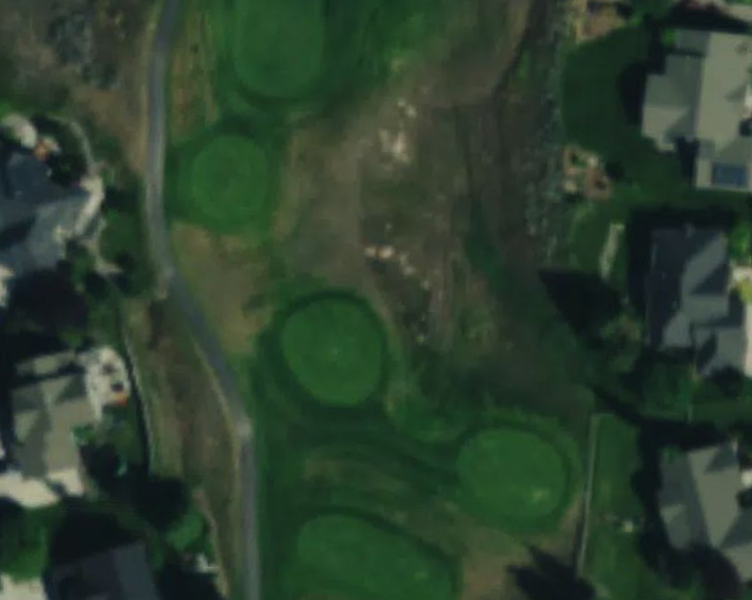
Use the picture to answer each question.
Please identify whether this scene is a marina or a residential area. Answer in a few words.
residential area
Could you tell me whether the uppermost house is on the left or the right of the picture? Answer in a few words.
right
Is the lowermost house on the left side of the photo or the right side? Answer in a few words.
left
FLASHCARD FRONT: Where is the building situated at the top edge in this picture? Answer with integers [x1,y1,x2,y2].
[640,24,752,191]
